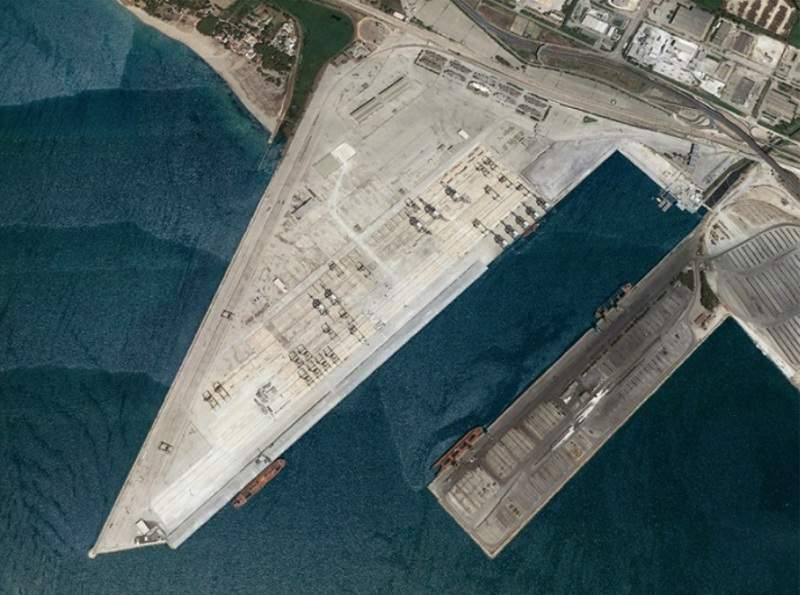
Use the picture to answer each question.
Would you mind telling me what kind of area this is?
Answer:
port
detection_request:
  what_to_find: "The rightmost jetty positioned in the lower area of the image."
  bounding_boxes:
[427,217,737,558]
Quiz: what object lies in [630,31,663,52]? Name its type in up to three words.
building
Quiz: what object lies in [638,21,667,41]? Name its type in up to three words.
building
